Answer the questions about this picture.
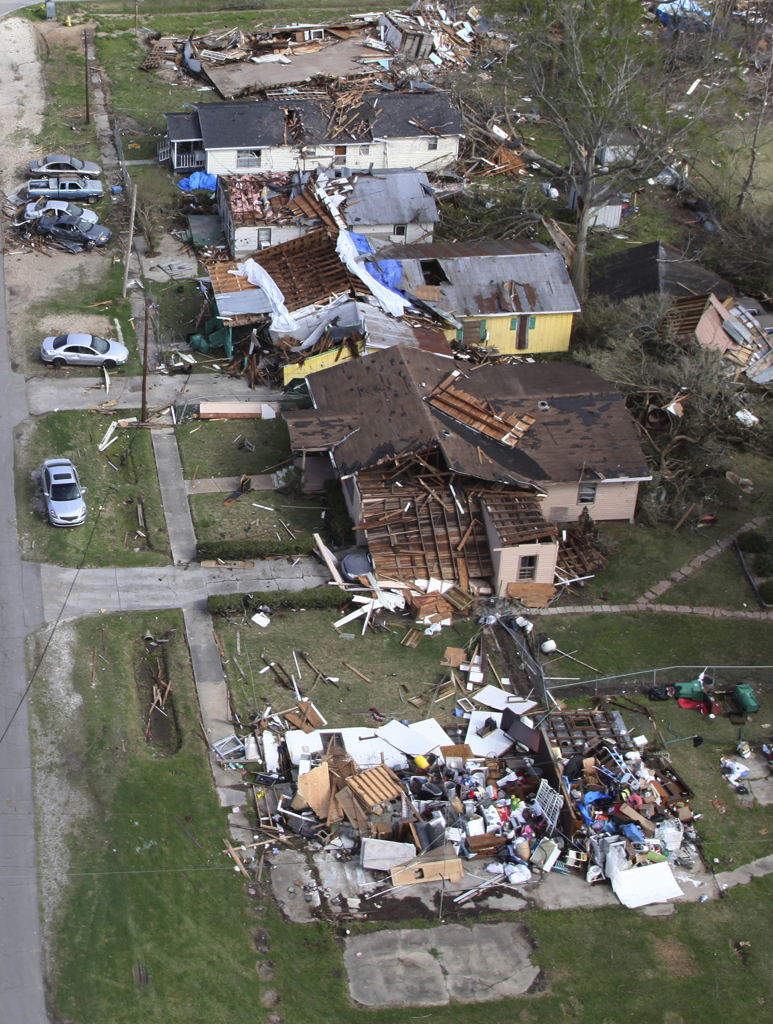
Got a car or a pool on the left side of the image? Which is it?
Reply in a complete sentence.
Looking on the left side of the image, you will find a car.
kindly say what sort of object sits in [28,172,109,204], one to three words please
truck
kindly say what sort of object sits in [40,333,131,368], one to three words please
car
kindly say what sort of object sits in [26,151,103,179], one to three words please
car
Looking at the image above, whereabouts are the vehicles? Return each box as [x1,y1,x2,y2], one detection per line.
[26,151,103,179]
[41,463,88,526]
[40,333,131,368]
[36,213,114,247]
[22,200,101,227]
[28,172,109,204]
